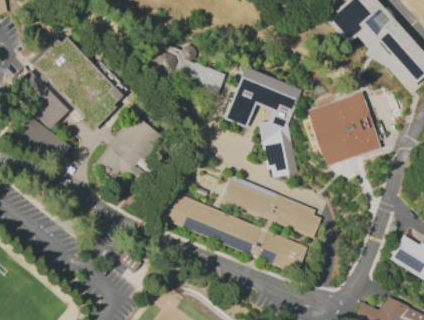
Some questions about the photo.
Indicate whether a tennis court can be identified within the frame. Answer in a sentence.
No, no tennis court is visible in the scene.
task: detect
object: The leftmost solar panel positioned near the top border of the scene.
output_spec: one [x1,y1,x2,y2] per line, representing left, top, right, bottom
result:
[334,0,370,36]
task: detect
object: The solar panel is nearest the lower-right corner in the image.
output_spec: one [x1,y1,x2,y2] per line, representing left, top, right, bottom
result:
[395,248,424,272]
